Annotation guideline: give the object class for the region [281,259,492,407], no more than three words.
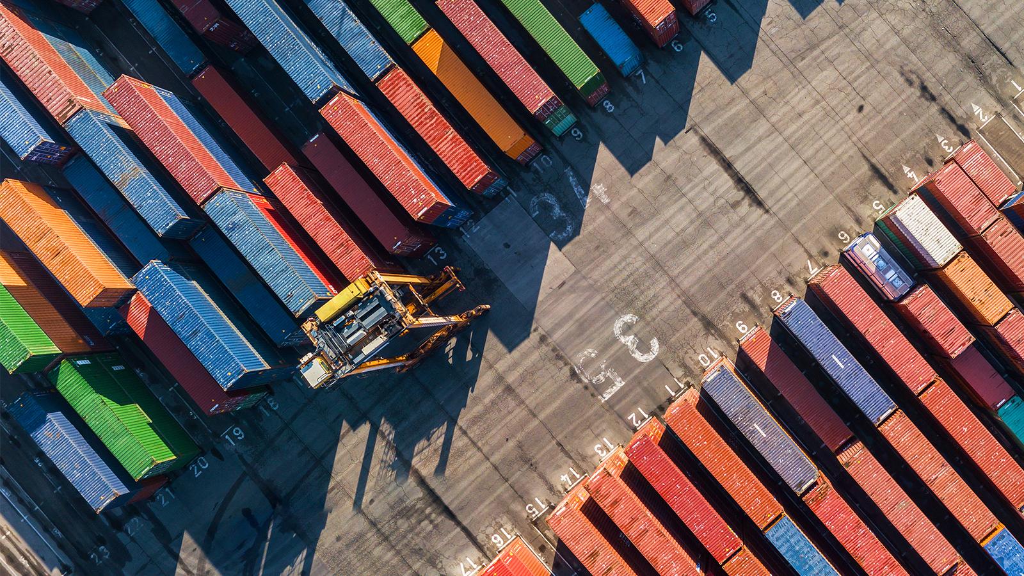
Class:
work vehicle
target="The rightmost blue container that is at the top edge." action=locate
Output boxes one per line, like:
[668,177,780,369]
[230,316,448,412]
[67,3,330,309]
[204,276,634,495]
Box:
[580,1,646,77]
